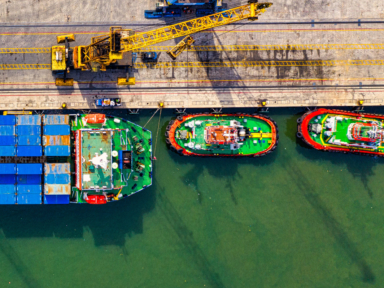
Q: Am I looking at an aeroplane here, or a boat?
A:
boat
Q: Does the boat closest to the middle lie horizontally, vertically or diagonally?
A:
horizontally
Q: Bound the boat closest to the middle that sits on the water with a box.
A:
[163,110,281,159]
